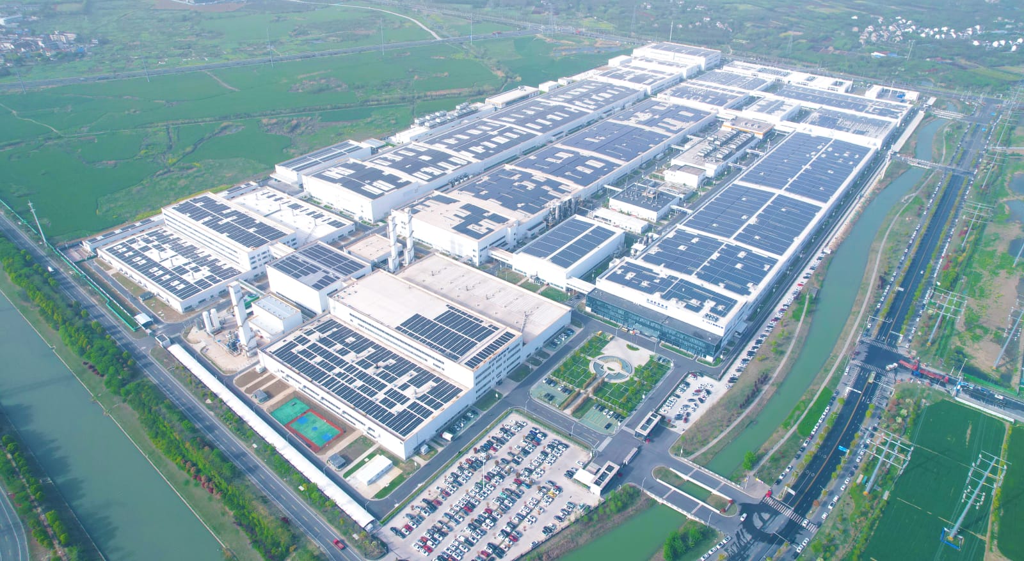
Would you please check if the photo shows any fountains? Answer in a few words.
Yes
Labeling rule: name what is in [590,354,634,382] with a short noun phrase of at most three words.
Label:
fountain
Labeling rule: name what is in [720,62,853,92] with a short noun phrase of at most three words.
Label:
building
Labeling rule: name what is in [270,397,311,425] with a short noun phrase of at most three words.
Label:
sports court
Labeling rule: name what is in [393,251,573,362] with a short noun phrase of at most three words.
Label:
building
